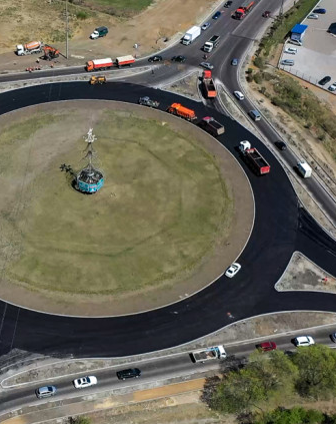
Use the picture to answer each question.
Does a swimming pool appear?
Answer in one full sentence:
No, no swimming pool is visible in the view.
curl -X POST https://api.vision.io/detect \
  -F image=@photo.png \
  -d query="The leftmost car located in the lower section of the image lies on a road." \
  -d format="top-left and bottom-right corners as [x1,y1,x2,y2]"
[35,383,58,397]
